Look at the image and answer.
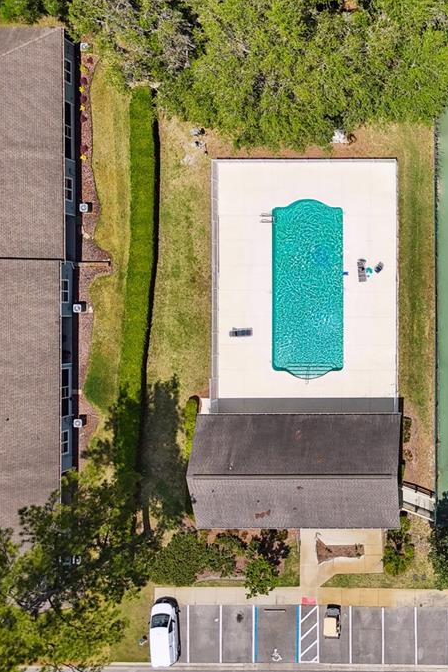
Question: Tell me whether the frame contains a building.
Yes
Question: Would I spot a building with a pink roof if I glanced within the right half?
No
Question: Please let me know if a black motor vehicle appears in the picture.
No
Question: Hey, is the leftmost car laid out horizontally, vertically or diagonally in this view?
vertically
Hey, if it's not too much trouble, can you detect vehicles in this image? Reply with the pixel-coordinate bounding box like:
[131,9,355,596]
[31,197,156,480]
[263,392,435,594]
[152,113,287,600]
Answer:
[148,604,180,666]
[323,603,343,638]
